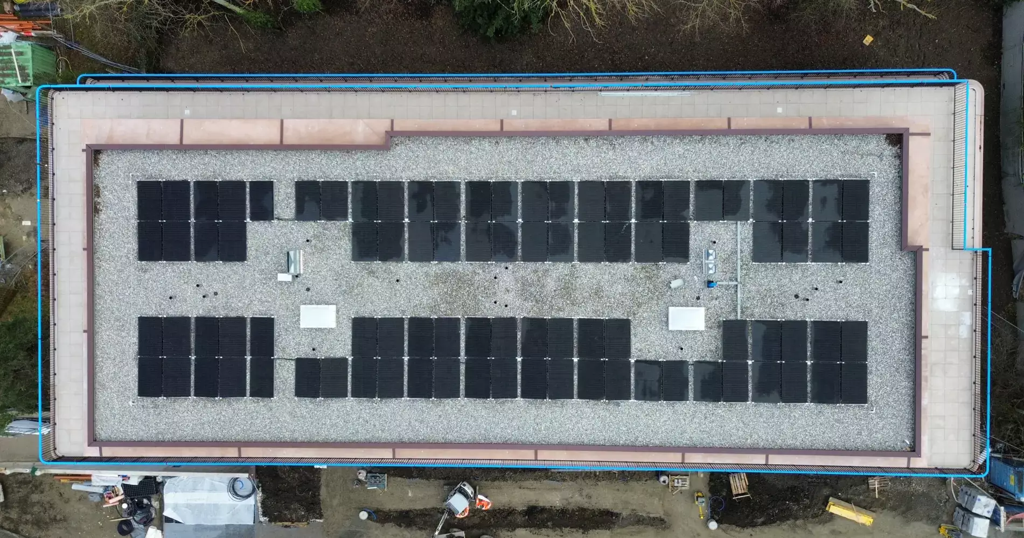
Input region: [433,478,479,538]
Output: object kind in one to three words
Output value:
work vehicle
